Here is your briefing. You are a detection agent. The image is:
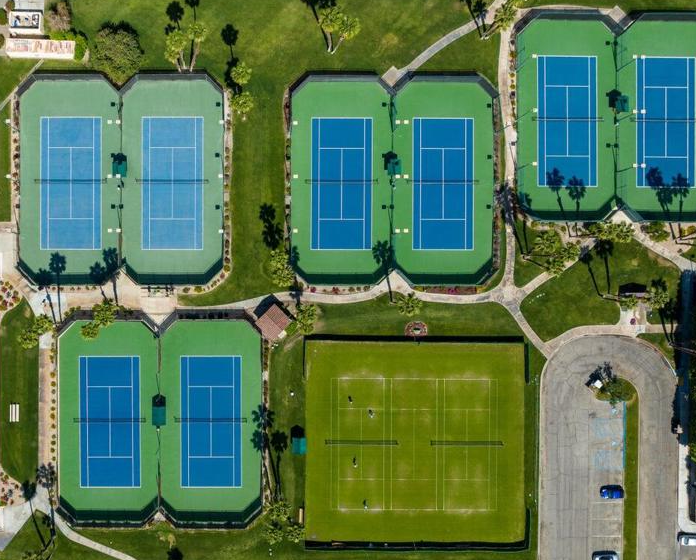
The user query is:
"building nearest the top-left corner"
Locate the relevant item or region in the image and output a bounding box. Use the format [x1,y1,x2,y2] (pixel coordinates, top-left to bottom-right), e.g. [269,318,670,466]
[9,10,46,39]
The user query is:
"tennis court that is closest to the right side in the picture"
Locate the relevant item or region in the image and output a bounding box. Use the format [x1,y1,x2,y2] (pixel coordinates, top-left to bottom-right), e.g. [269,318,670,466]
[616,20,696,221]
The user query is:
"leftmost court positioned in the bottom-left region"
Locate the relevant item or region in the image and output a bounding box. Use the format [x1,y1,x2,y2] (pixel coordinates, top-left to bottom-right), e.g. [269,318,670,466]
[58,321,159,523]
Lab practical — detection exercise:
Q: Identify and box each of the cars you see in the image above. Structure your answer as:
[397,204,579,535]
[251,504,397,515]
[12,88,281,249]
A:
[601,487,625,500]
[681,535,696,547]
[593,553,620,560]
